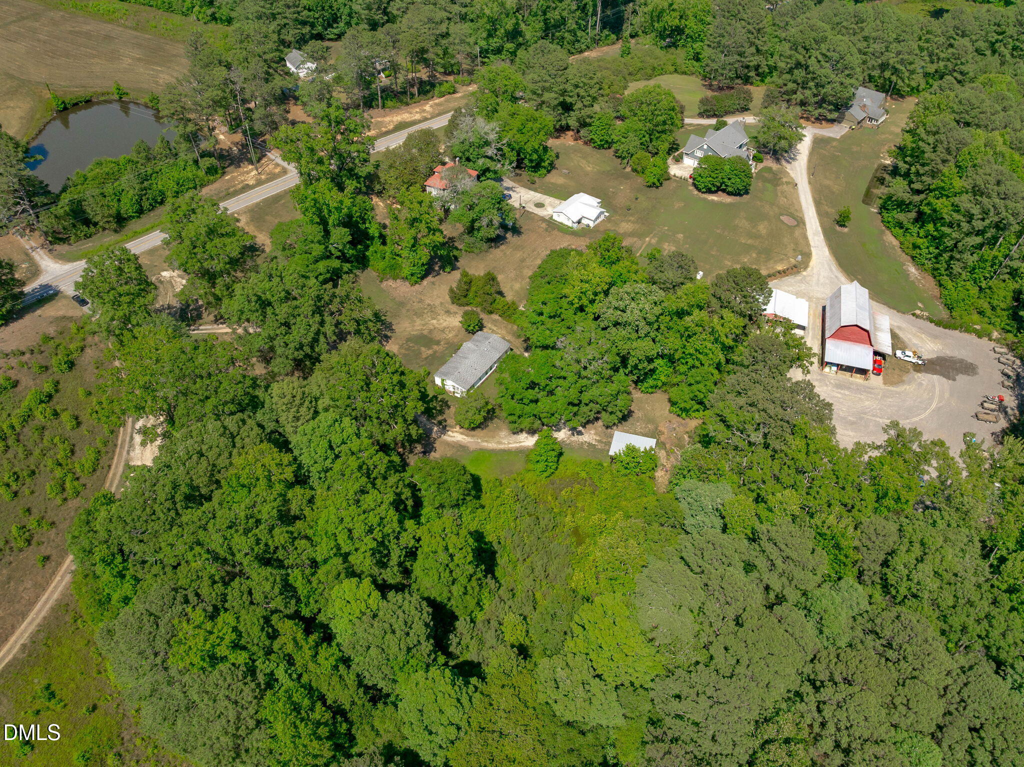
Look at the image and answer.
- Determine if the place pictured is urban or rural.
rural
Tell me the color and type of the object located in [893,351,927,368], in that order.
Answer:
white vehicle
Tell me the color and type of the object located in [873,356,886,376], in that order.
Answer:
red vehicle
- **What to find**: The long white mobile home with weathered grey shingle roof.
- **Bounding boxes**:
[434,331,514,398]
